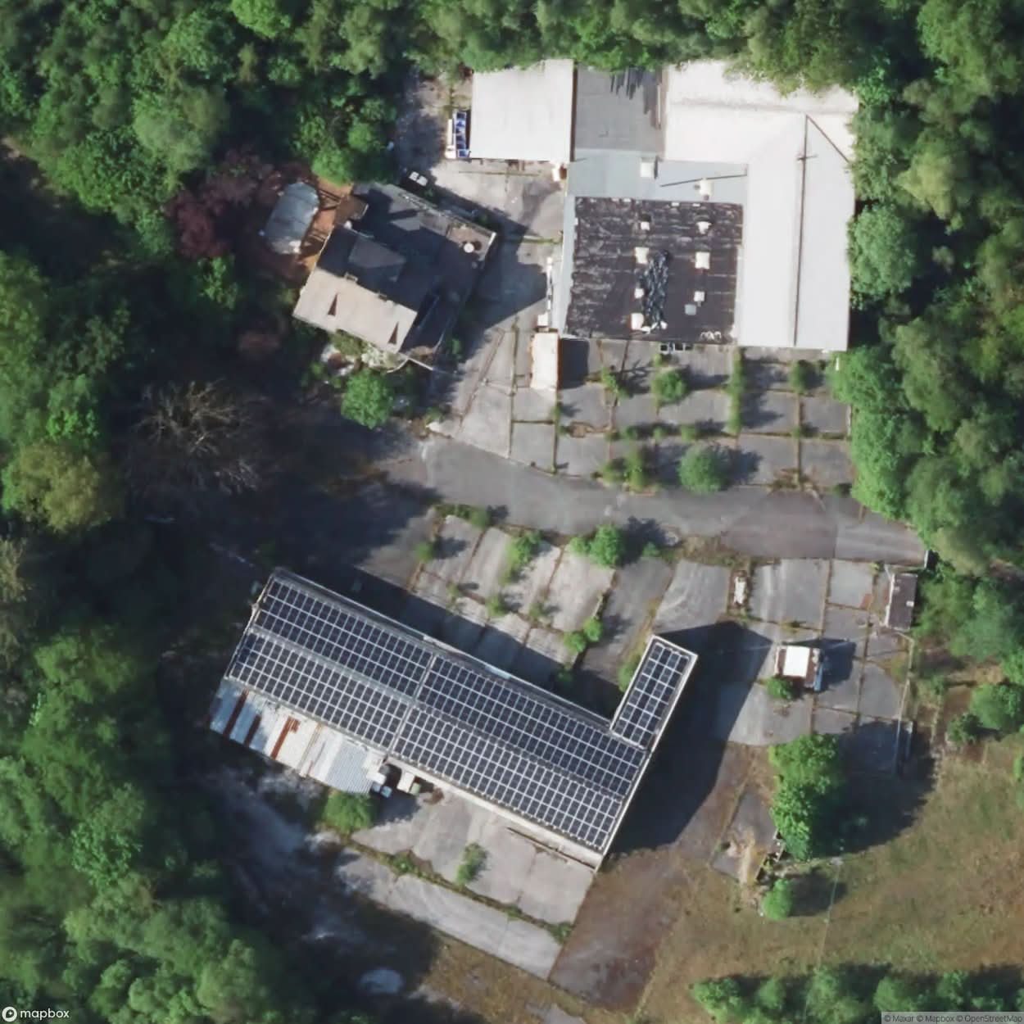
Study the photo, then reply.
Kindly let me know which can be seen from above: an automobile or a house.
house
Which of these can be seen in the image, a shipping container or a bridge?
shipping container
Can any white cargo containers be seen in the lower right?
No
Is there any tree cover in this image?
Yes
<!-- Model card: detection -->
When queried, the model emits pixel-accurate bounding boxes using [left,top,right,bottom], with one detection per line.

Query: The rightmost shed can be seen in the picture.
[883,573,918,631]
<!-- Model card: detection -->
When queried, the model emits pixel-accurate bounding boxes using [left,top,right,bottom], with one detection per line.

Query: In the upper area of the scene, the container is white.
[531,333,559,394]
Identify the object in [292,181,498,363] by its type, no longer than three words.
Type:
house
